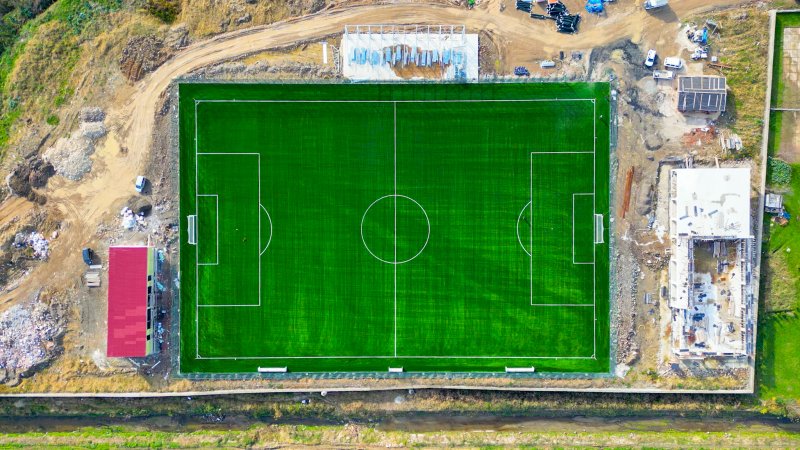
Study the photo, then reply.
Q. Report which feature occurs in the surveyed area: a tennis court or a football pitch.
football pitch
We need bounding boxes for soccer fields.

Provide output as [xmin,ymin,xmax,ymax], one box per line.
[179,82,610,374]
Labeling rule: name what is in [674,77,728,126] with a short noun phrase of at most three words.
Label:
shed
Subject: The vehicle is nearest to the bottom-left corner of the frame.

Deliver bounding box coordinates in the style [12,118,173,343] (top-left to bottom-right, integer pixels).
[80,247,94,266]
